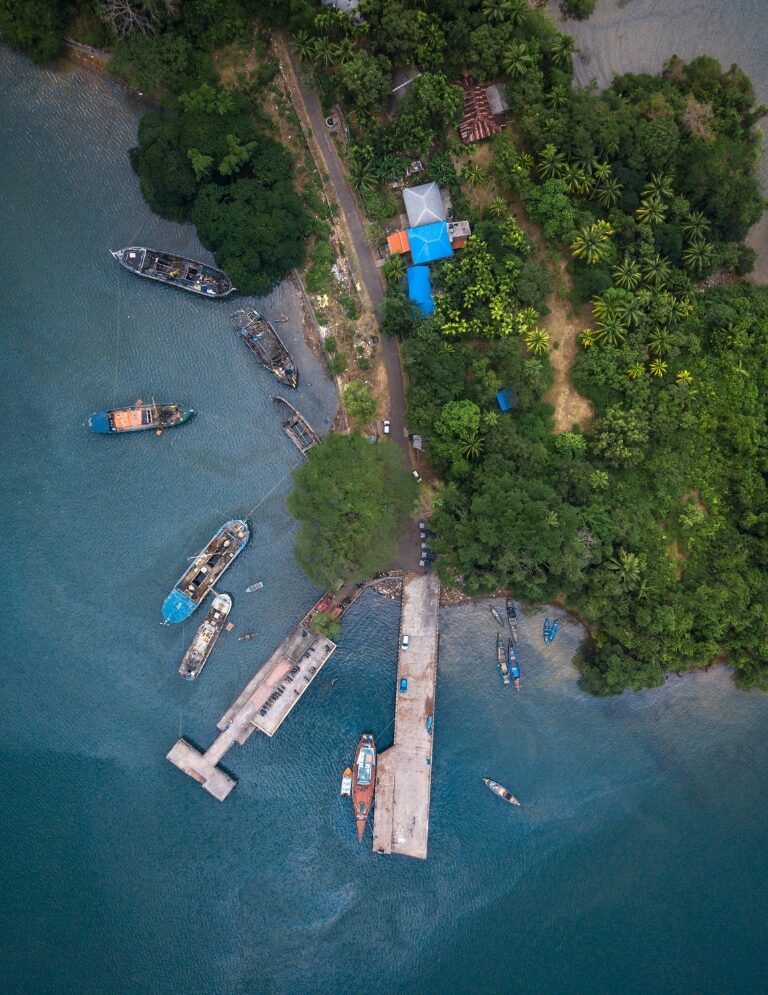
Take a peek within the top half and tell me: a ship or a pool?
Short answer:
ship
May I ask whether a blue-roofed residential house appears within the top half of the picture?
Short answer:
Yes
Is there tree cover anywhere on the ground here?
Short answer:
Yes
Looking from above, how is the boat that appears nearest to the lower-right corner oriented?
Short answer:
on a diagonal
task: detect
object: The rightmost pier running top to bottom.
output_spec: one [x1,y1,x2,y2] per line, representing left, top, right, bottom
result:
[373,576,440,859]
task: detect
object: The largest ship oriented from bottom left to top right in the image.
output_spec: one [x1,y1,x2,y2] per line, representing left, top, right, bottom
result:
[160,520,251,625]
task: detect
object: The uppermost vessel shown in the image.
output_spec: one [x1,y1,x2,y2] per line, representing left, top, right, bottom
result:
[107,245,238,298]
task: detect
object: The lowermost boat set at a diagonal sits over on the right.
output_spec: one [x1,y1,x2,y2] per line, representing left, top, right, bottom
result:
[484,778,520,806]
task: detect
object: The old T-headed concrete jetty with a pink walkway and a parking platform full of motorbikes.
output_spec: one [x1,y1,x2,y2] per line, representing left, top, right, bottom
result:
[166,575,402,801]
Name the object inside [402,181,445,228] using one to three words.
house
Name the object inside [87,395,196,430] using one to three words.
ship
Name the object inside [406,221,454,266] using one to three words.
house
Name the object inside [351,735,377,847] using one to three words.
ship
